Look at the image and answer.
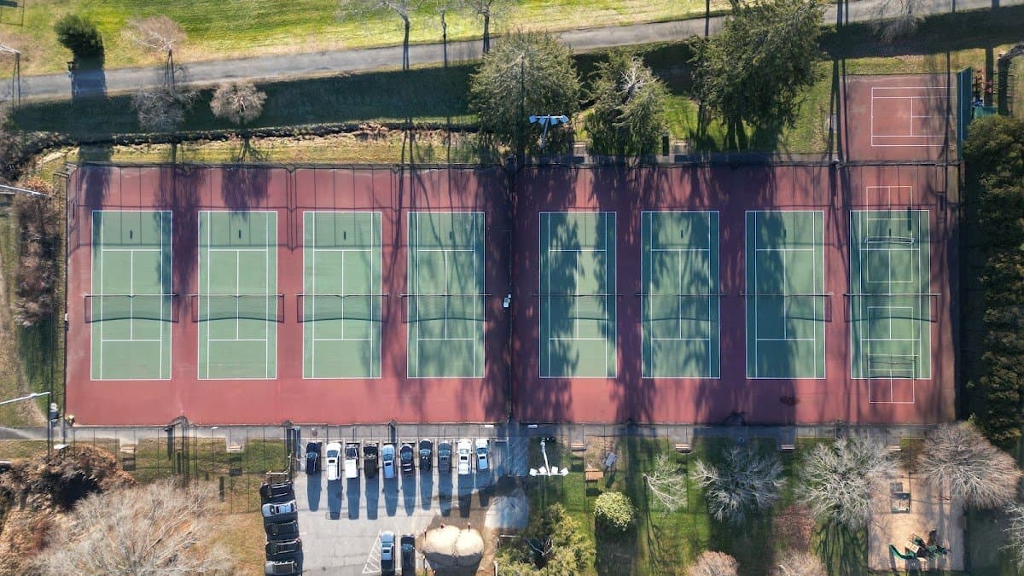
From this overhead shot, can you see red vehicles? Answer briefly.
No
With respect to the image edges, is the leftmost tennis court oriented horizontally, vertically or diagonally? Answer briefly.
vertically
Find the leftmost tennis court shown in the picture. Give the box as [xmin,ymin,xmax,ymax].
[92,211,171,380]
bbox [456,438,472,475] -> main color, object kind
white car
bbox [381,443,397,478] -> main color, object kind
blue car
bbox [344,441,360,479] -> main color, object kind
white vehicle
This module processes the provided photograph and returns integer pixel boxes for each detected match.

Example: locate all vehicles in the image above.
[474,437,490,470]
[305,440,322,475]
[260,482,297,501]
[400,536,417,573]
[399,443,415,477]
[267,536,303,556]
[381,443,397,478]
[267,555,305,575]
[263,500,299,520]
[344,441,360,479]
[362,442,379,479]
[266,518,302,537]
[325,441,343,480]
[456,438,472,475]
[417,438,433,471]
[436,439,452,474]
